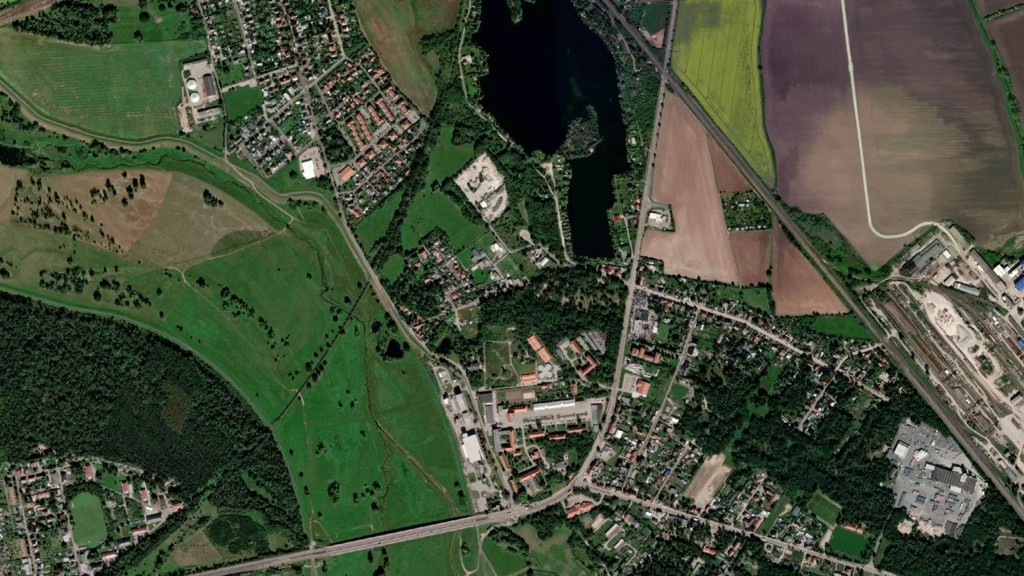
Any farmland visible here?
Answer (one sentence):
Yes, some farmland is visible.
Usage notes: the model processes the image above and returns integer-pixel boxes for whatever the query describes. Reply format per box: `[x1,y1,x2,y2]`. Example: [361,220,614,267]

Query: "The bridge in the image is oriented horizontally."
[327,516,475,559]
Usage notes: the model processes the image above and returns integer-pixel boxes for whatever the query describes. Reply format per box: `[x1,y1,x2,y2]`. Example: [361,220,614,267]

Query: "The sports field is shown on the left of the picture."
[71,492,107,548]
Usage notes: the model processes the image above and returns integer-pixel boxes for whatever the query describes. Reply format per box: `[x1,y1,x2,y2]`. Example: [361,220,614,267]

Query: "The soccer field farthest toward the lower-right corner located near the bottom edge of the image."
[830,527,869,557]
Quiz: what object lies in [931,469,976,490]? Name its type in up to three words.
building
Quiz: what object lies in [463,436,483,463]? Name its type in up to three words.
building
